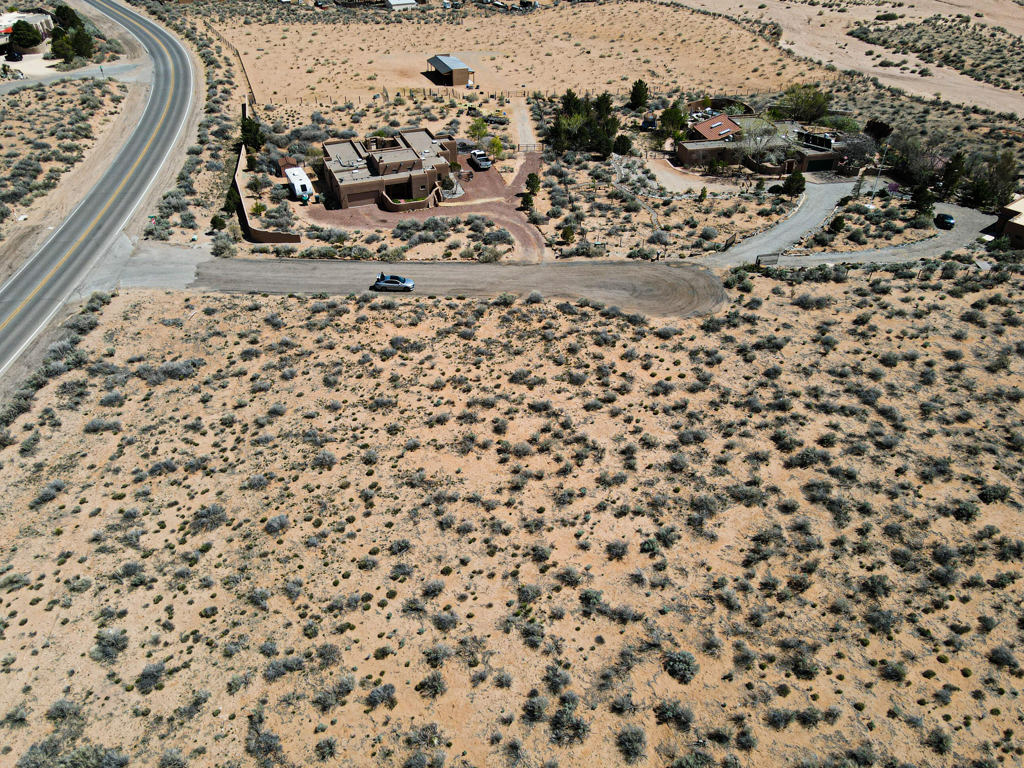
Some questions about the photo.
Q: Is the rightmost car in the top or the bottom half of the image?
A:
top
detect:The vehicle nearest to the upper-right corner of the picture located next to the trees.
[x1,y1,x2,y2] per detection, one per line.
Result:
[935,207,959,230]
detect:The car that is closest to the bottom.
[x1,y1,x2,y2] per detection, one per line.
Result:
[375,273,415,292]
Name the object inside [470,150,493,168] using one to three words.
vehicle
